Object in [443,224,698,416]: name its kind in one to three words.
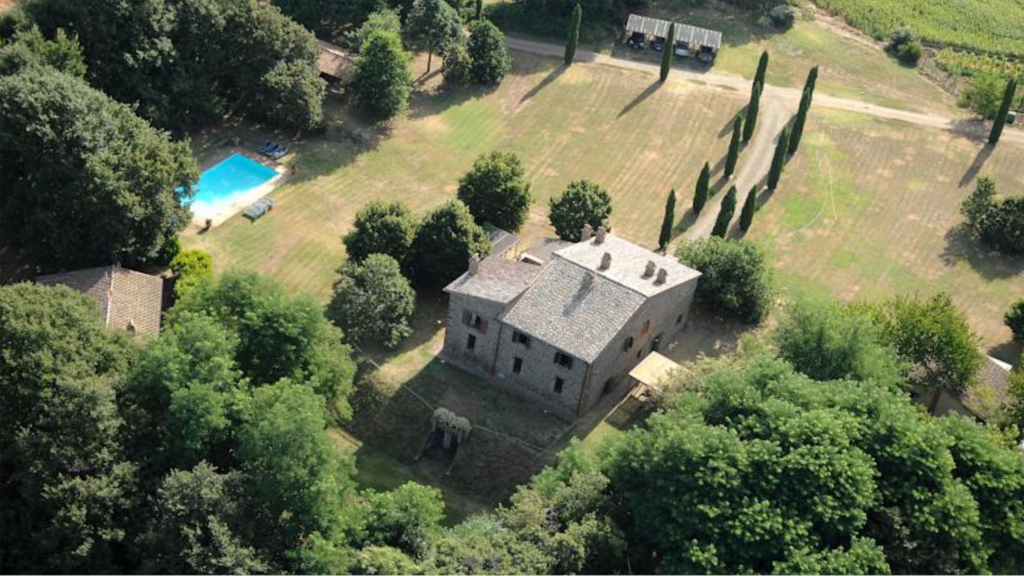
house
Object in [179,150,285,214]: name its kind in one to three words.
swimming pool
